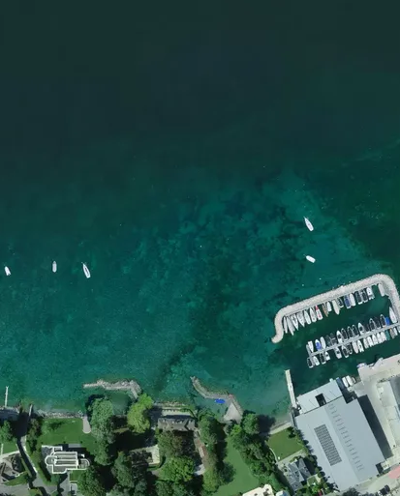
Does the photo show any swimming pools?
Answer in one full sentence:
No, this view has no swimming pool in it.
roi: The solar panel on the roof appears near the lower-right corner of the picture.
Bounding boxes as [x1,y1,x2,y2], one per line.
[315,424,342,465]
